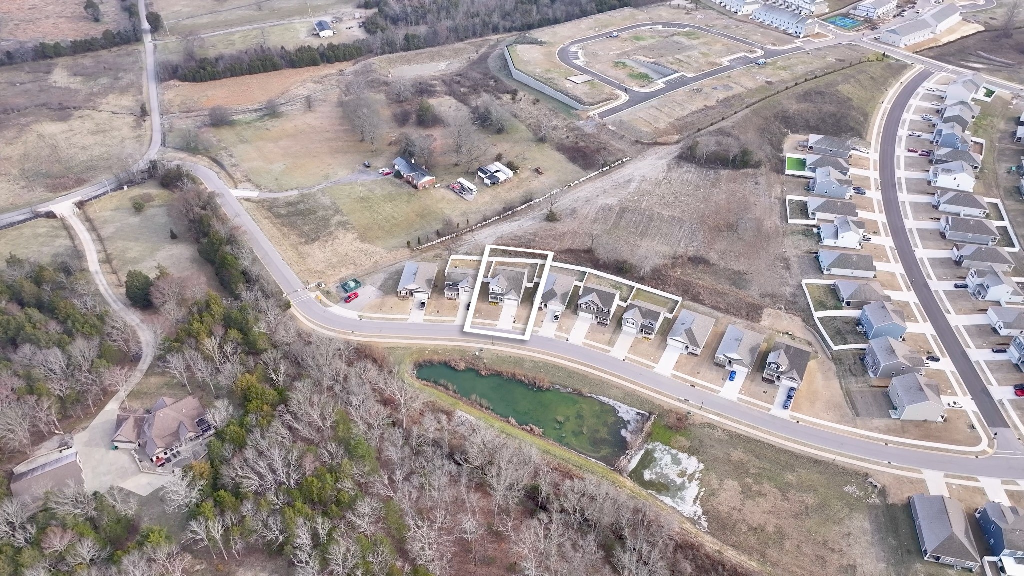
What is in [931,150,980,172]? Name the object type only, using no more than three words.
house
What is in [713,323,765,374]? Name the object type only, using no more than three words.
house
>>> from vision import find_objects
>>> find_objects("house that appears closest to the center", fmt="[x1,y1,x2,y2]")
[488,266,529,307]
